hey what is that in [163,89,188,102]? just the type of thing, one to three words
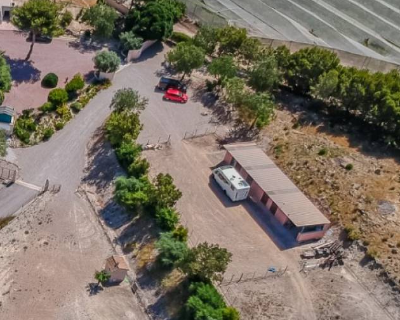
vehicle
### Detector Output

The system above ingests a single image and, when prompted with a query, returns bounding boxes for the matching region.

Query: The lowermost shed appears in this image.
[106,256,130,286]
